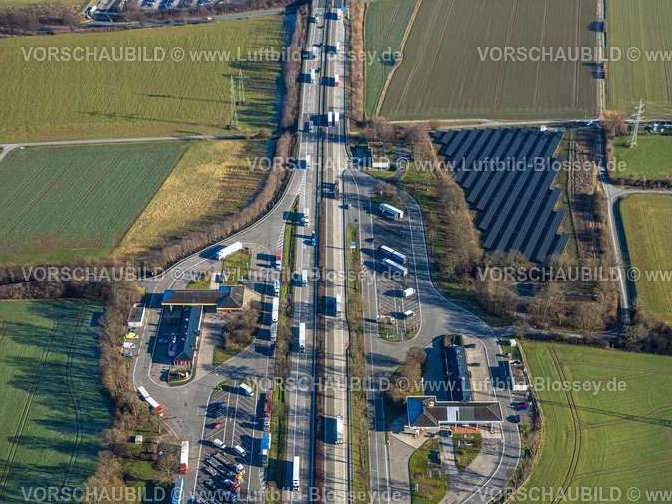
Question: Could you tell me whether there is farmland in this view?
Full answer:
Yes, there is farmland in the image.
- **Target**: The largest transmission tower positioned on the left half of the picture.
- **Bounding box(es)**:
[227,75,239,130]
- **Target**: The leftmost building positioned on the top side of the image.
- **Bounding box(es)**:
[368,142,389,170]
